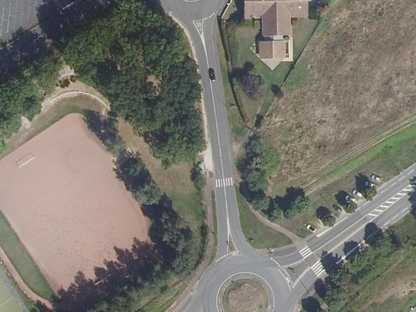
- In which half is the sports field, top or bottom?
bottom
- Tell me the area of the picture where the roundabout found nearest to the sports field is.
bottom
